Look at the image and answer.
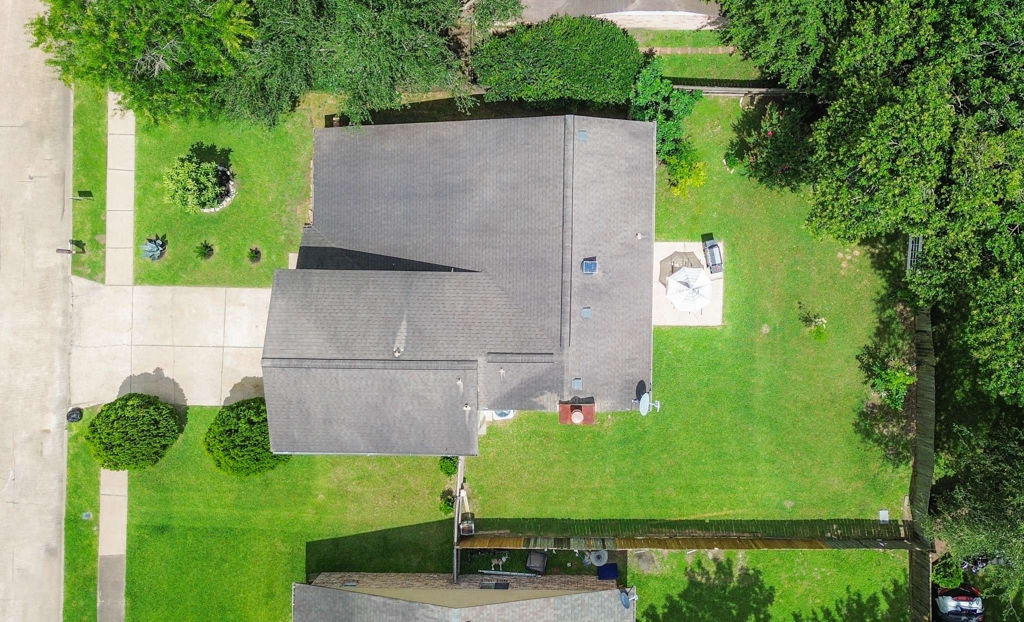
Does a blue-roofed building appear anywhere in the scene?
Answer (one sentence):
No, no blue-roofed building can be seen from above.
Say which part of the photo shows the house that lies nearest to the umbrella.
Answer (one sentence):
The house that lies nearest to the umbrella is in the center part of the image.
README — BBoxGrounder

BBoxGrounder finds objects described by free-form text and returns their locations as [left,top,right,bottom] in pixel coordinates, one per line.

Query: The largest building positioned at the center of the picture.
[261,112,658,458]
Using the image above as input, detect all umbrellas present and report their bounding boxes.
[666,266,712,312]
